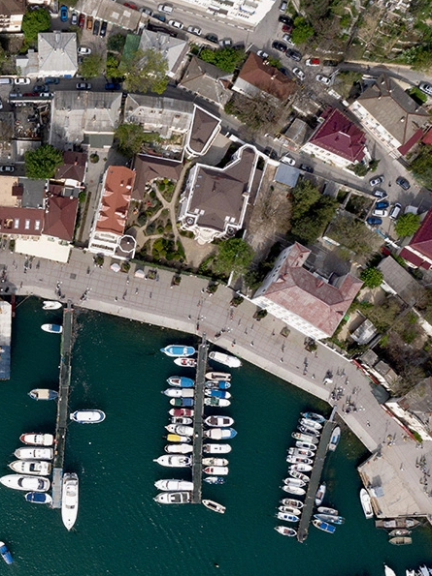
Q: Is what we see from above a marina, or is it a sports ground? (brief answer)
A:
marina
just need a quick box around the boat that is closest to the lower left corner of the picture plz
[0,544,15,567]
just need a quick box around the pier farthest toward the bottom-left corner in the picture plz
[51,469,64,509]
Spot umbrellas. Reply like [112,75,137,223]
[112,262,122,272]
[137,268,147,278]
